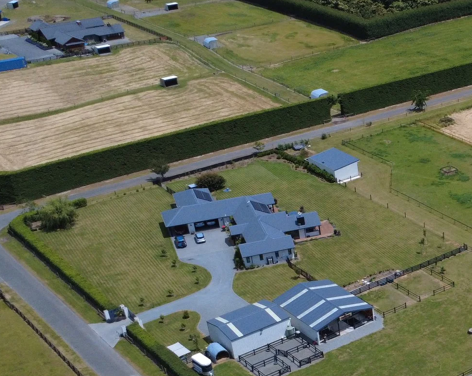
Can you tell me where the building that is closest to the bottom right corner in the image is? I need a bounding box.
[273,279,374,345]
